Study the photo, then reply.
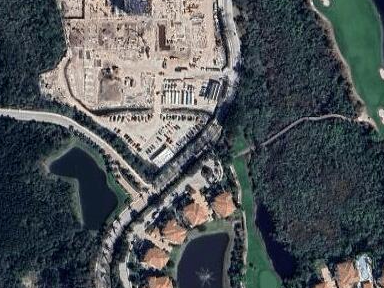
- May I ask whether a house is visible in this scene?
Yes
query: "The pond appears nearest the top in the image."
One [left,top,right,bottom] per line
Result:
[48,146,118,229]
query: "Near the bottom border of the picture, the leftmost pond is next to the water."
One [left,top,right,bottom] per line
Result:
[178,231,230,288]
